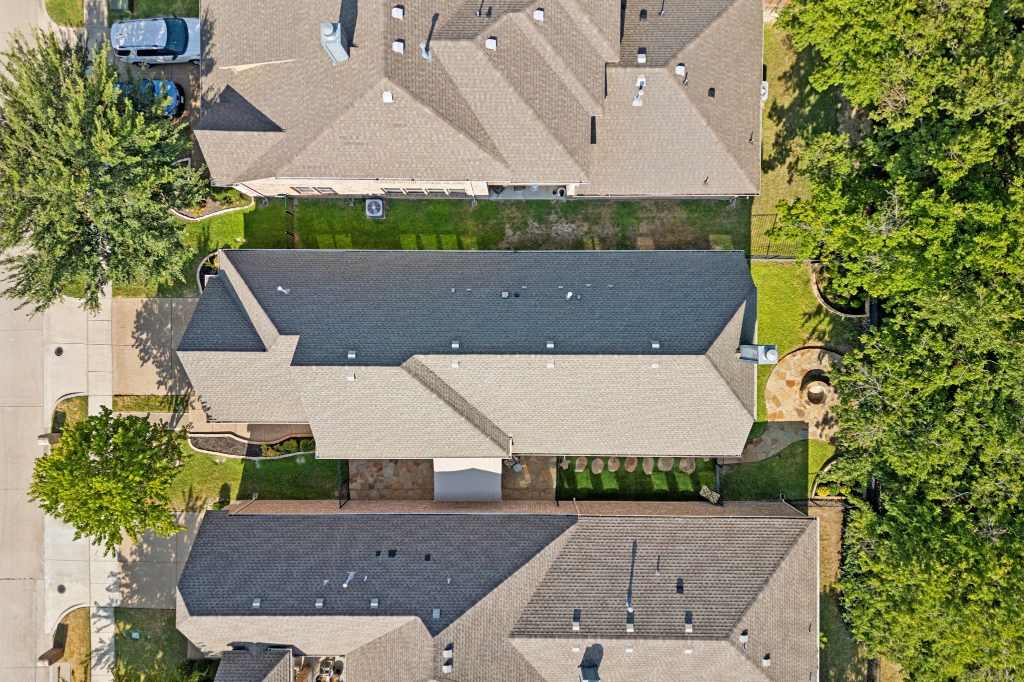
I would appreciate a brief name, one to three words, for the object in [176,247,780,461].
house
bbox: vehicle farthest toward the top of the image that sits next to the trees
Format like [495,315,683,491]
[101,12,198,72]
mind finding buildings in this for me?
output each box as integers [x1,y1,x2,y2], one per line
[194,0,764,207]
[175,493,820,682]
[176,247,780,461]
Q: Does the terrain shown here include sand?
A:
No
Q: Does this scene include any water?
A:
No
